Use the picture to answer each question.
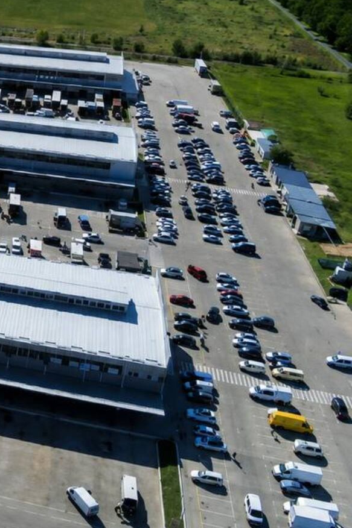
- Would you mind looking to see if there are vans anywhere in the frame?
Yes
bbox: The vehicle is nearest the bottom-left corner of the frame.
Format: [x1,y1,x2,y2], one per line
[60,486,108,525]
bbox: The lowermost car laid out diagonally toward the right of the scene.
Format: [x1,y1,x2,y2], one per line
[238,494,269,526]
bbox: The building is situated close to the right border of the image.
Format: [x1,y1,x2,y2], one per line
[249,163,347,241]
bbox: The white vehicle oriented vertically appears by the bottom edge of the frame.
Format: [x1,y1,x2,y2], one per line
[118,476,141,516]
